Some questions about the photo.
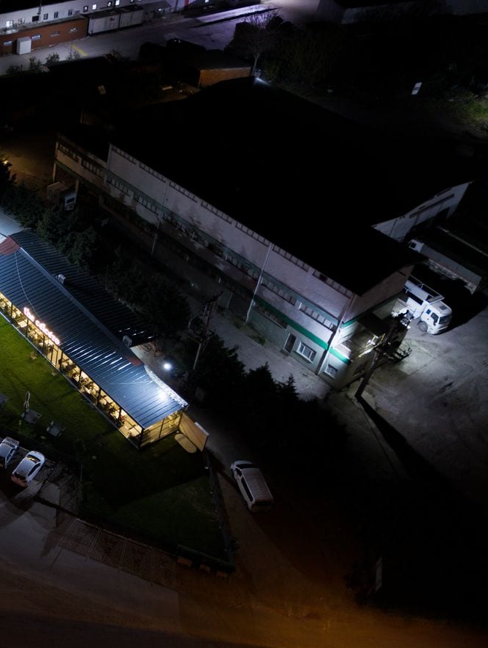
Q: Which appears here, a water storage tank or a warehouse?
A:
warehouse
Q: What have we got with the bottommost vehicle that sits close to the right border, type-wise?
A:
truck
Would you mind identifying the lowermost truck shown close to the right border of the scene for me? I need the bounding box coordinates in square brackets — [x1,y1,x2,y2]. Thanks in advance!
[409,281,465,333]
